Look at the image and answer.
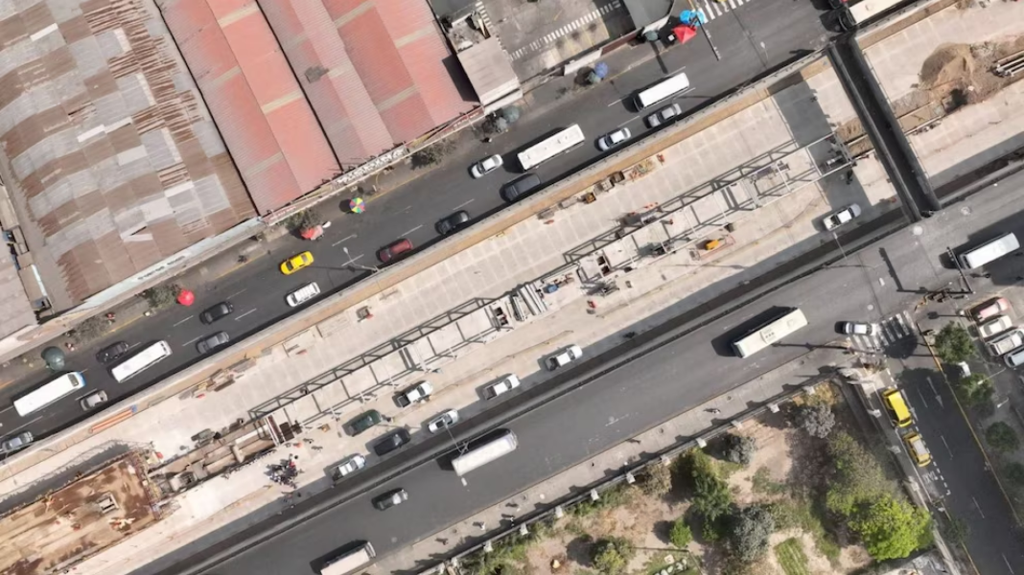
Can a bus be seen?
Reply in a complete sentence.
Yes, the image includes a bus.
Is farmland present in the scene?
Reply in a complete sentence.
No, the scene doesn't show any farmland.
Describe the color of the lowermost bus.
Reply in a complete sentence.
From above, the lowermost bus appears white.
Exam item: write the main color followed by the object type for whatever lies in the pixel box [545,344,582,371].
white truck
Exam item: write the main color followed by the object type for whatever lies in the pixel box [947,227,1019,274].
white bus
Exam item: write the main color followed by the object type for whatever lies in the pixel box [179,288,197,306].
red umbrella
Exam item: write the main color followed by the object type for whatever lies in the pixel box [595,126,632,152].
white car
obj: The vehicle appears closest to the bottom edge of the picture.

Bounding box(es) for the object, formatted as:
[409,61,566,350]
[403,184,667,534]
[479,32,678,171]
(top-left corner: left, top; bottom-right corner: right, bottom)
[304,539,382,575]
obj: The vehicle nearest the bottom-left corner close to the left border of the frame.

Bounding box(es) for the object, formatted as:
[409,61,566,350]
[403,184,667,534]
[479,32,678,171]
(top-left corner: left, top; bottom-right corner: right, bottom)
[0,428,35,454]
